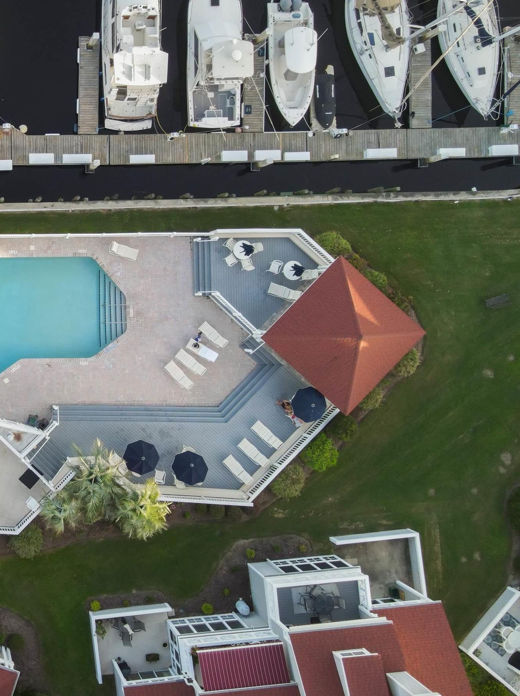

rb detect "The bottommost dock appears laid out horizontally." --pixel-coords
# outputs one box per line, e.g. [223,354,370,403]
[0,126,520,168]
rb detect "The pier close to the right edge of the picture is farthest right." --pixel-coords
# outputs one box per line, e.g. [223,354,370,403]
[501,27,520,127]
